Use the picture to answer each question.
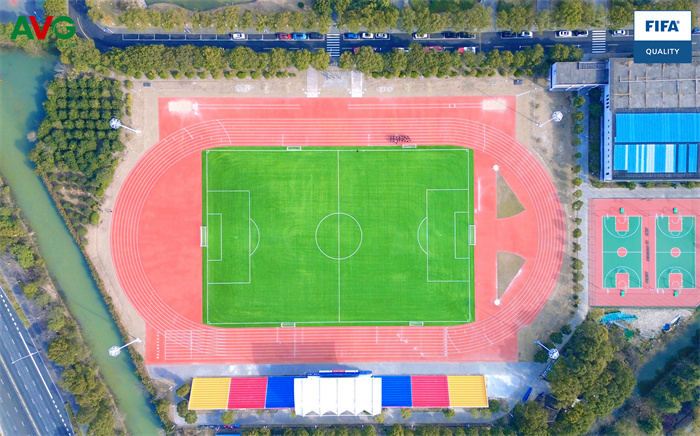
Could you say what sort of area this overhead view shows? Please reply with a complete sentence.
This looks like a sports ground.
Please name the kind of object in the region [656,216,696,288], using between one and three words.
basketball court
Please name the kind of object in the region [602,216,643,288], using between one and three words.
basketball court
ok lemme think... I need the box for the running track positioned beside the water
[111,96,565,364]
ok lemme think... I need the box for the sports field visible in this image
[202,144,475,329]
